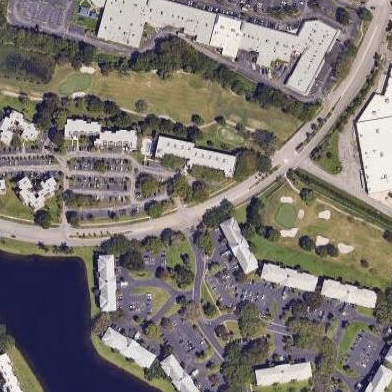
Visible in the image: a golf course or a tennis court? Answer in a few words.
golf course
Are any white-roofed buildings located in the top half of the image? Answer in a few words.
Yes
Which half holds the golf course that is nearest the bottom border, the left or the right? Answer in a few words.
right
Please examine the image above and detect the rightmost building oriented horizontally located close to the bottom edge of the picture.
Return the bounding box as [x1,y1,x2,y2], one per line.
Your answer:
[255,362,314,387]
